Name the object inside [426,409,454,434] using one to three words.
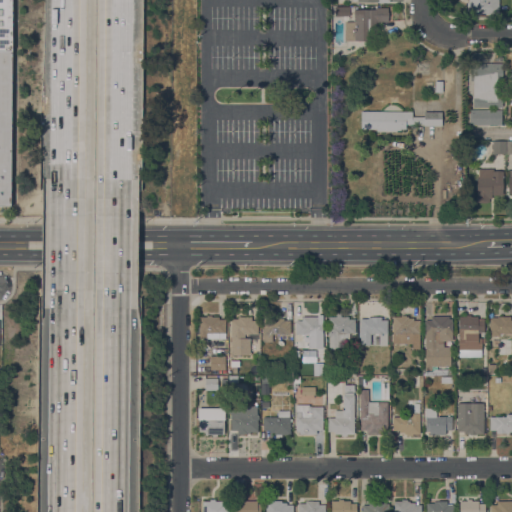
house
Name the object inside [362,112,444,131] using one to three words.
building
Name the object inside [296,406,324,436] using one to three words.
house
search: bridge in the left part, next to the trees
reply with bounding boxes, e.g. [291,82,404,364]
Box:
[44,180,140,318]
